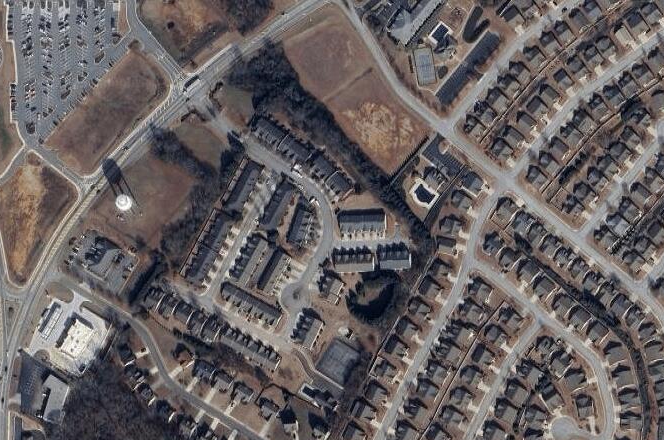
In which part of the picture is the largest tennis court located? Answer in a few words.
bottom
